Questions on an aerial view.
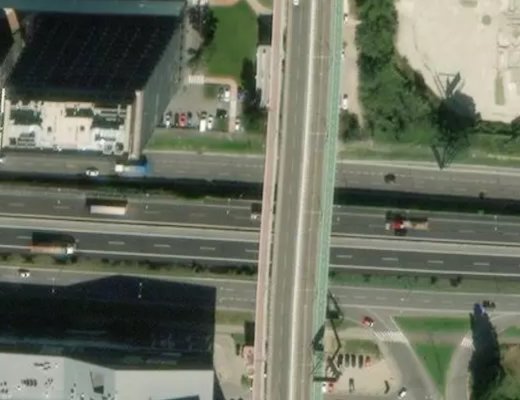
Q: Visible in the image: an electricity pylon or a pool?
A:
electricity pylon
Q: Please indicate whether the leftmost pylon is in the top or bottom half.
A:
bottom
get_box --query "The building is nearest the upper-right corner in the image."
[255,39,272,105]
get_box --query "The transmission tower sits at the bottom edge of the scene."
[313,354,340,390]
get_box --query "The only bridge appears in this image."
[252,0,346,400]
